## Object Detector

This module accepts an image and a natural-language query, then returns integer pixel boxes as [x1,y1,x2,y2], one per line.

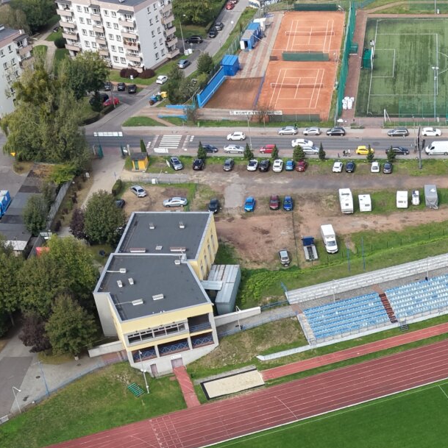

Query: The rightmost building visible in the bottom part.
[94,212,261,360]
